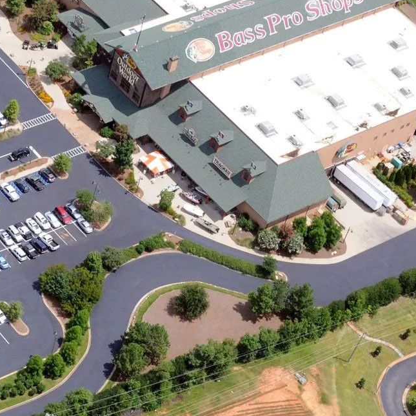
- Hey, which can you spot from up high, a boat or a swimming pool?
boat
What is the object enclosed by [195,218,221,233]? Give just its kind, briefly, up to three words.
boat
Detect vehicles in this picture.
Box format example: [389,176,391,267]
[55,205,72,225]
[10,148,30,160]
[14,220,35,240]
[44,211,61,228]
[20,240,41,260]
[34,211,51,230]
[30,234,49,253]
[13,176,30,195]
[22,40,30,49]
[40,232,61,252]
[1,181,21,202]
[77,217,94,234]
[31,42,38,50]
[41,167,58,184]
[24,171,45,192]
[9,242,27,262]
[0,110,8,127]
[0,311,8,326]
[0,254,9,270]
[64,203,82,220]
[0,228,15,246]
[24,217,42,235]
[6,223,24,242]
